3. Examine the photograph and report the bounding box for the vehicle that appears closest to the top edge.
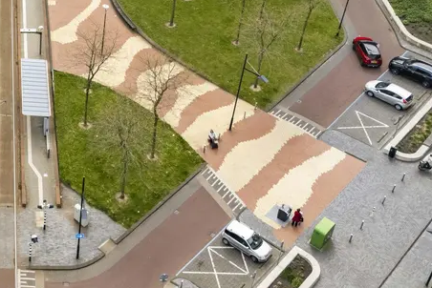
[350,36,384,65]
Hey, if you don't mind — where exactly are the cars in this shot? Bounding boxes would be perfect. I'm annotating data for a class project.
[350,36,384,65]
[388,56,432,86]
[365,79,417,108]
[220,214,278,266]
